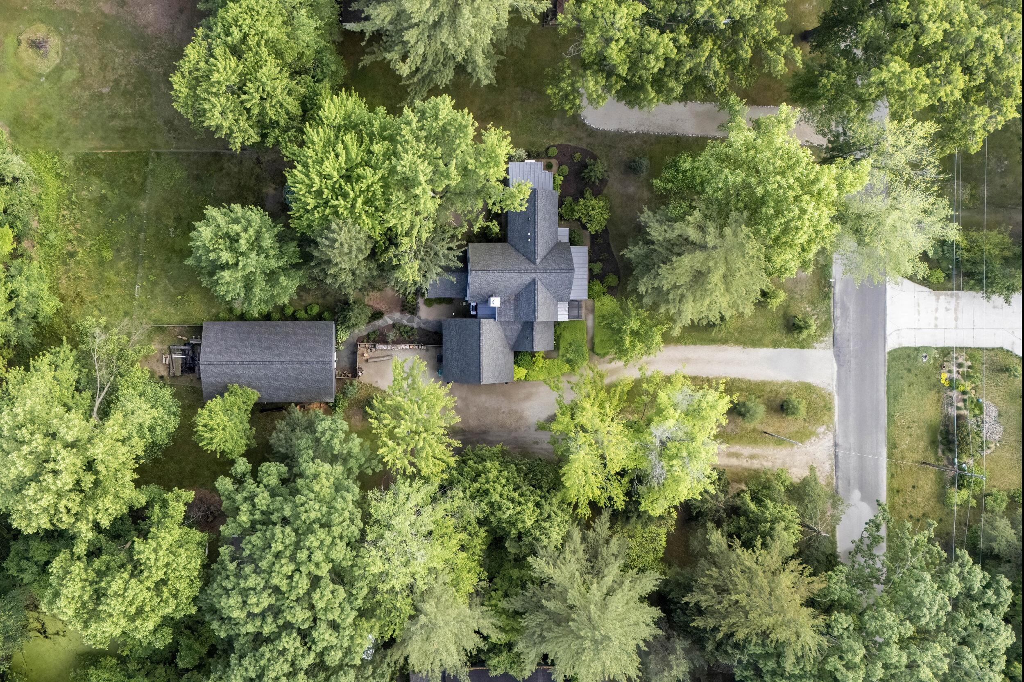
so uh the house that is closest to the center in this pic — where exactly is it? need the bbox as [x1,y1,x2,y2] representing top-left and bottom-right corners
[428,162,588,385]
